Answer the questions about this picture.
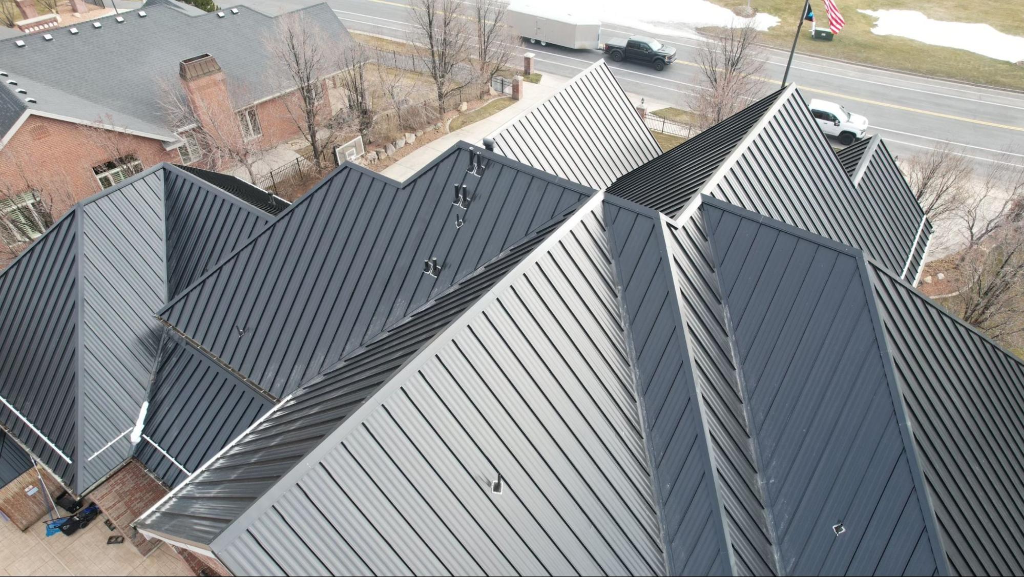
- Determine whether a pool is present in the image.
No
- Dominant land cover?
buildings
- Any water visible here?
No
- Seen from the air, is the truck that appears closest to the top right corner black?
No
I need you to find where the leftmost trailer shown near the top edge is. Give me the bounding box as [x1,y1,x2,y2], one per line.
[511,4,605,51]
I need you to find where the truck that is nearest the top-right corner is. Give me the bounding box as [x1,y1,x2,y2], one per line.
[809,98,872,146]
